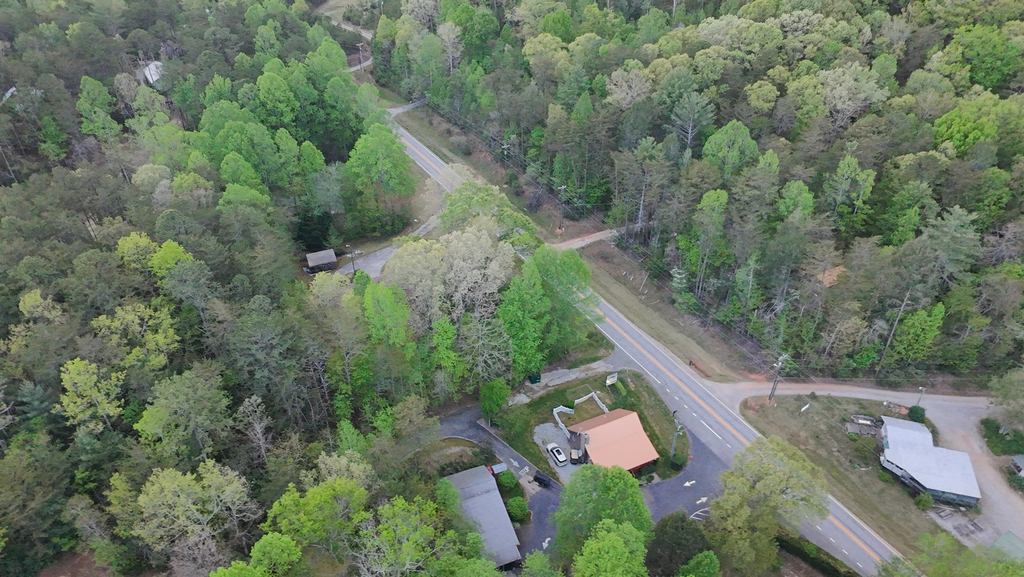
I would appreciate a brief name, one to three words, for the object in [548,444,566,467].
car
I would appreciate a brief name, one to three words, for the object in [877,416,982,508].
building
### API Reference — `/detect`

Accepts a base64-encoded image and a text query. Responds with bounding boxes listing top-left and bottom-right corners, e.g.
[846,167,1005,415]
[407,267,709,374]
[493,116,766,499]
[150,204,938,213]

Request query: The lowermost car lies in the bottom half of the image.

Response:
[530,469,555,493]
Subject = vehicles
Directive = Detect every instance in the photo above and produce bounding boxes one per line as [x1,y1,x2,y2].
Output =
[530,469,555,493]
[548,444,566,467]
[566,448,585,465]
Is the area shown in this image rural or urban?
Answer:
rural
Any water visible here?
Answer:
No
